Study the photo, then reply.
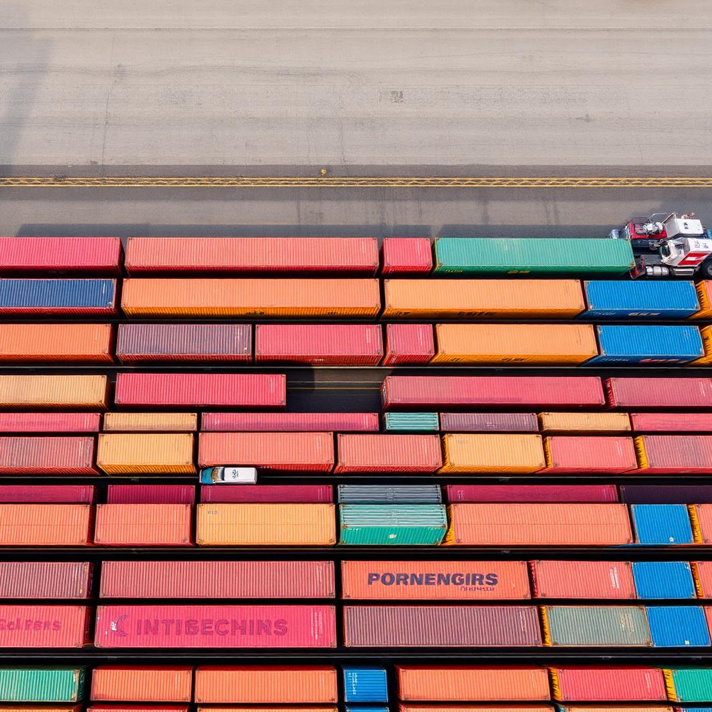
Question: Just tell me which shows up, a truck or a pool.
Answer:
truck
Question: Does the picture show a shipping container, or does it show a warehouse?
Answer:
shipping container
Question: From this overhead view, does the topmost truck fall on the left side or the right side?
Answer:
right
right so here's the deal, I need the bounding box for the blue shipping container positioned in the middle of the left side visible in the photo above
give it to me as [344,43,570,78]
[0,280,123,318]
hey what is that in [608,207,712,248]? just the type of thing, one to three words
truck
